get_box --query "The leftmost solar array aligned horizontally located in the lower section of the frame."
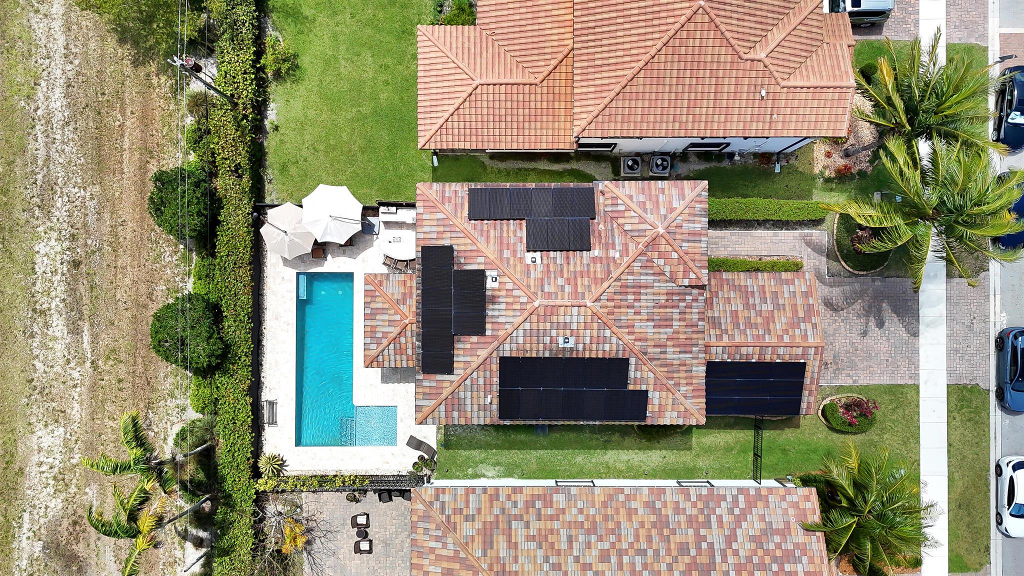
[496,358,650,422]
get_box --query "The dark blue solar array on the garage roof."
[706,359,807,417]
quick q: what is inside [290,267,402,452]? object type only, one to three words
swimming pool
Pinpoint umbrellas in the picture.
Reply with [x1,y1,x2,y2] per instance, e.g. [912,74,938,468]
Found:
[259,202,316,259]
[302,184,373,244]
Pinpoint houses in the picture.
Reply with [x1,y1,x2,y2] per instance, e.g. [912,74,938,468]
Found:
[408,479,833,576]
[362,178,828,435]
[415,0,861,159]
